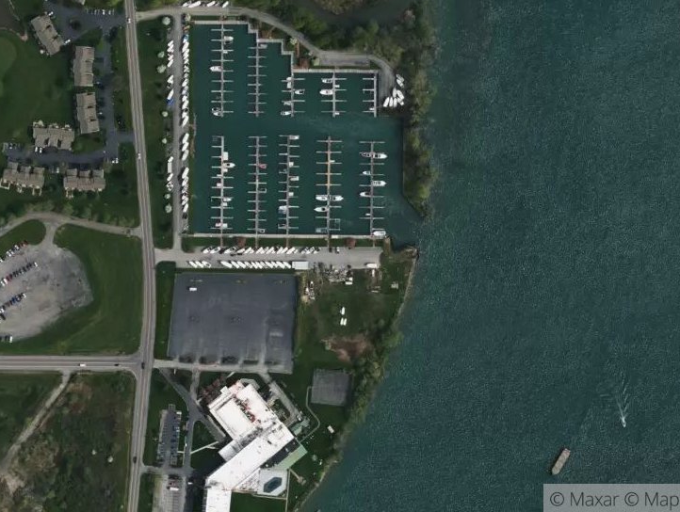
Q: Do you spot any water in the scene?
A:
Yes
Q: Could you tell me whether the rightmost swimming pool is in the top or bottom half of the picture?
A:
bottom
